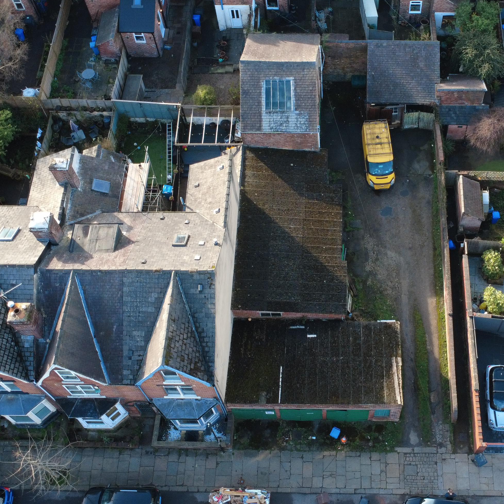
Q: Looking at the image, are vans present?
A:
Yes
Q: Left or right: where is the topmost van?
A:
right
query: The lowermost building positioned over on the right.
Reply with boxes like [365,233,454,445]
[224,320,402,420]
